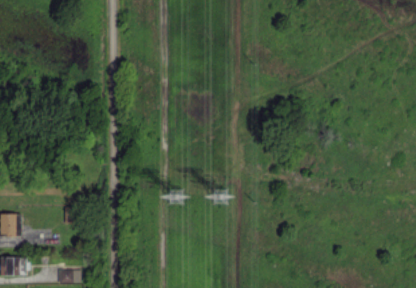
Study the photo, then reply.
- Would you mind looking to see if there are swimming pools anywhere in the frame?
No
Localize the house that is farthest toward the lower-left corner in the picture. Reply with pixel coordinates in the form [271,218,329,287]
[0,257,32,276]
